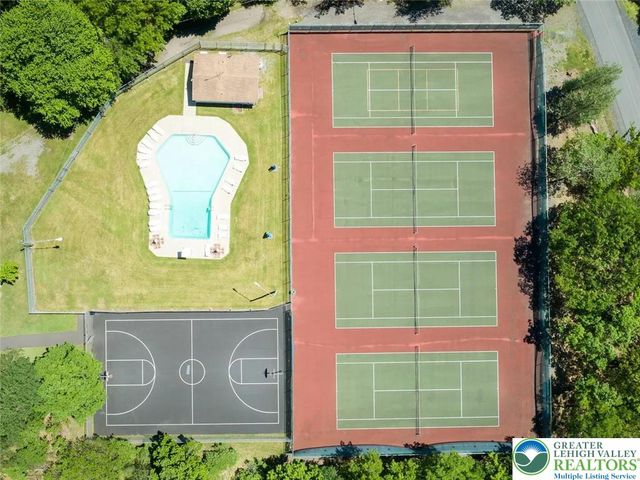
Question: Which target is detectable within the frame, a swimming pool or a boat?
swimming pool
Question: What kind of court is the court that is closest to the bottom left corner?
basketball court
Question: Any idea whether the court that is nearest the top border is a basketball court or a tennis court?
tennis court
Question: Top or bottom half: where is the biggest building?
top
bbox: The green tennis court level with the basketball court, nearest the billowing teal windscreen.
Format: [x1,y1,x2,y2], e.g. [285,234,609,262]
[336,352,499,429]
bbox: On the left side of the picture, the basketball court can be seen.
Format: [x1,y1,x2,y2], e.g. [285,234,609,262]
[85,310,292,438]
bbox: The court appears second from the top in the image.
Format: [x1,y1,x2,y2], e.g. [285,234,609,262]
[334,152,495,227]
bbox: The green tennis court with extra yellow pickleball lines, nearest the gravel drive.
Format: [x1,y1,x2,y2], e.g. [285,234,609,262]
[332,52,494,127]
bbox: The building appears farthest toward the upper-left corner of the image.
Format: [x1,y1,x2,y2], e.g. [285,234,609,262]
[191,53,258,104]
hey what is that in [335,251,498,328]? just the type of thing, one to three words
tennis court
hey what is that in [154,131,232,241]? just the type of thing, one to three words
swimming pool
